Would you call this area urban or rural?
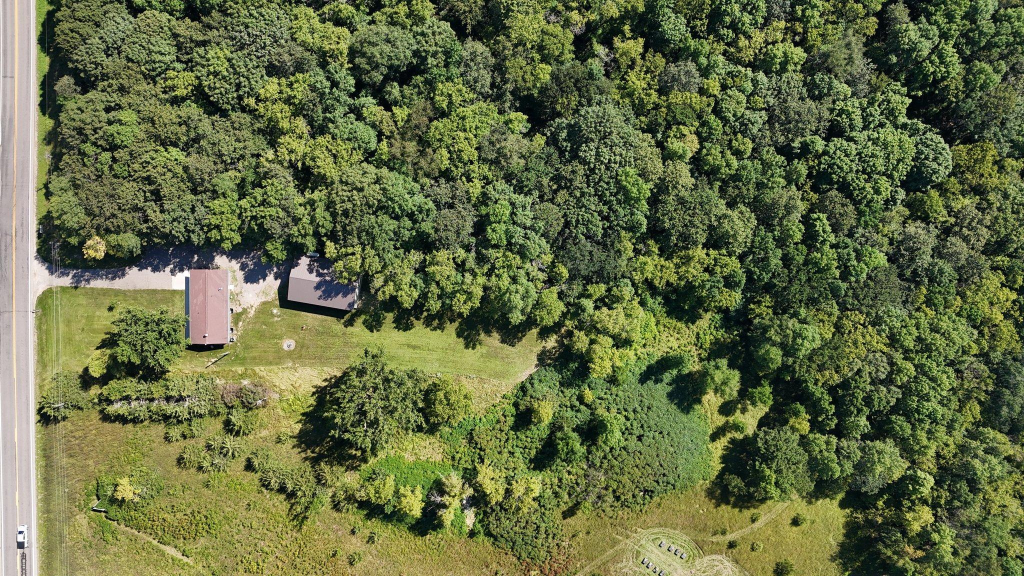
rural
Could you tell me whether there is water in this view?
No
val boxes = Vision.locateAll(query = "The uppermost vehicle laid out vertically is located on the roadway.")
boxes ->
[16,523,29,550]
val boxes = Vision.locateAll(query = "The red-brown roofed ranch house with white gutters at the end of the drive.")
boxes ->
[190,269,236,345]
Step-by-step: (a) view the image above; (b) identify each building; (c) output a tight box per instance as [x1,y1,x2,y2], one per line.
[190,269,236,345]
[288,254,360,310]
